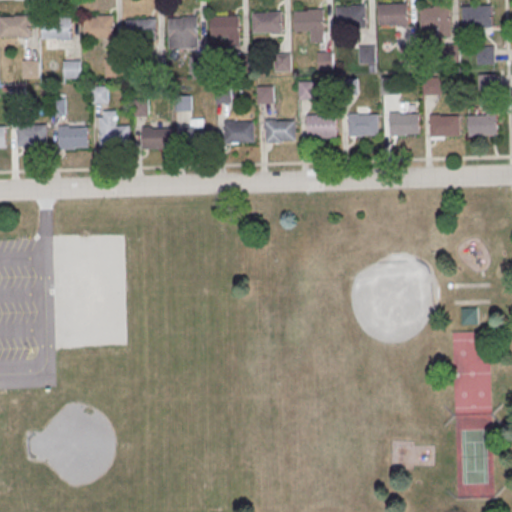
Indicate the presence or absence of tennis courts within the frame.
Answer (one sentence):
Yes, a tennis court can be made out from above.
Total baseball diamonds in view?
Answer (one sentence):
The number of baseball diamonds here is 2.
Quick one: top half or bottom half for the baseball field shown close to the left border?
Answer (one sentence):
You can find the baseball field shown close to the left border in the bottom half.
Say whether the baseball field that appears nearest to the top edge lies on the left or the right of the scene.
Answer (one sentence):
The baseball field that appears nearest to the top edge is on the right side of the image.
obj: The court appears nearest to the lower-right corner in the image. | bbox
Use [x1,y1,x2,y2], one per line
[457,415,494,498]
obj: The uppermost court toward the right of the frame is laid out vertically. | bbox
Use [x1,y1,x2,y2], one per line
[453,332,492,414]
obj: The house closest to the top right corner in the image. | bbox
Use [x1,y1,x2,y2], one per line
[461,6,495,28]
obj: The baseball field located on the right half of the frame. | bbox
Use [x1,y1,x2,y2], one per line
[350,250,442,344]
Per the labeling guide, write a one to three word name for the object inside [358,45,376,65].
building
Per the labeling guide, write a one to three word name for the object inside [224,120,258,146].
house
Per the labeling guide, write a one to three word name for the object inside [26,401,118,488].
baseball field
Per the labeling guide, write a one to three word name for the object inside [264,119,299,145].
house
